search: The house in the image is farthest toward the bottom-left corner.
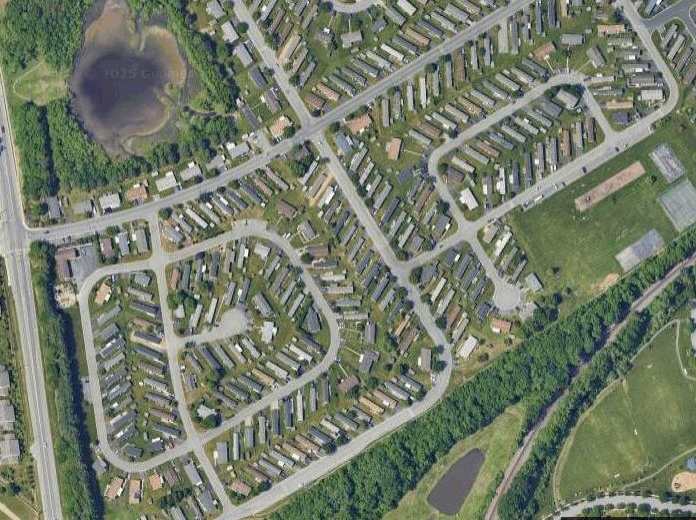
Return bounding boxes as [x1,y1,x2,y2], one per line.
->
[0,434,20,464]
